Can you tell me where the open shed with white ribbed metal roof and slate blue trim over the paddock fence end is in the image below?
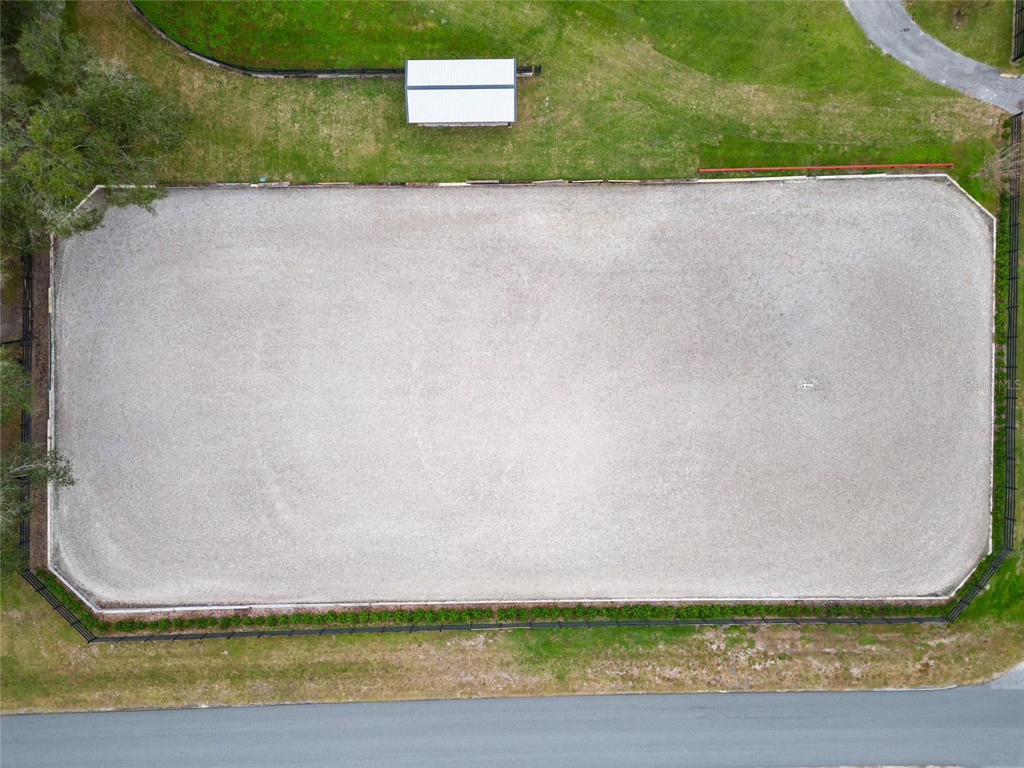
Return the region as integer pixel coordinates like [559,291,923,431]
[405,60,517,127]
